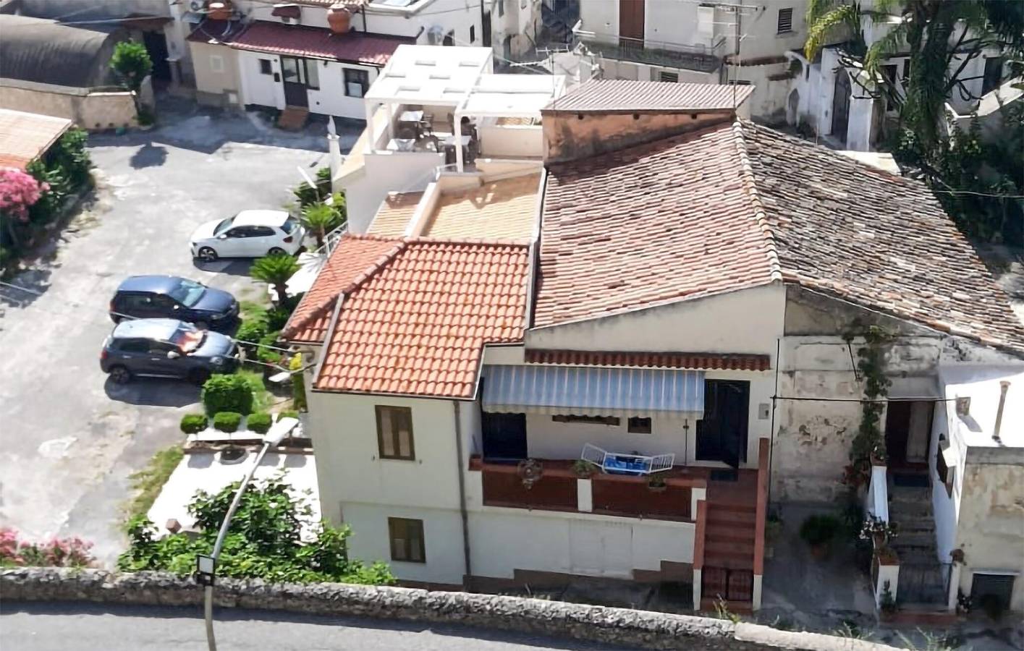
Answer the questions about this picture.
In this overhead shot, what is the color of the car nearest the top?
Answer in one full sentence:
From above, the car nearest the top appears white.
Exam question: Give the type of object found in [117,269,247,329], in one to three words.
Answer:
car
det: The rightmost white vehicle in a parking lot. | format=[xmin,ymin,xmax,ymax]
[187,205,303,263]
